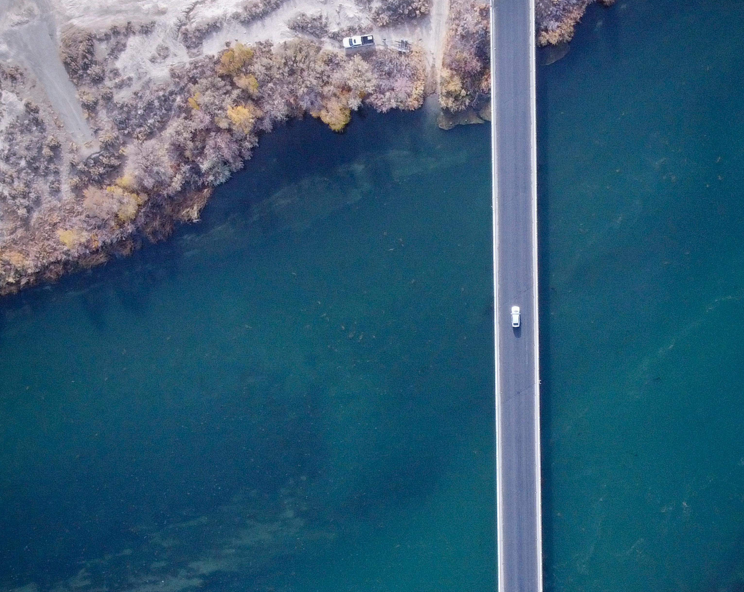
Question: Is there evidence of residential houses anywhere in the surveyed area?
No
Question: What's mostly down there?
water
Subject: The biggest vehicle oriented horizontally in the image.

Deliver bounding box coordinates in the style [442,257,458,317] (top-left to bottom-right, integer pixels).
[344,35,374,48]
